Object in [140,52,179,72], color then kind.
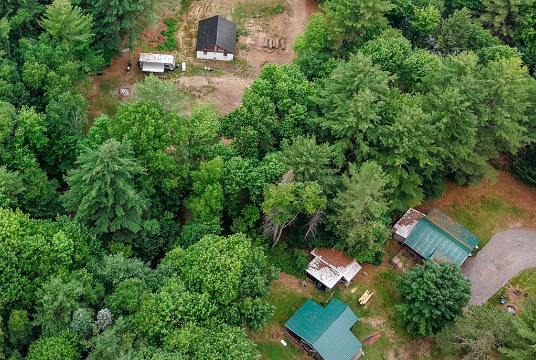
white trailer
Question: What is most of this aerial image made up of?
trees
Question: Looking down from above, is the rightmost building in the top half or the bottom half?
bottom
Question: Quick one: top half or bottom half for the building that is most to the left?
top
